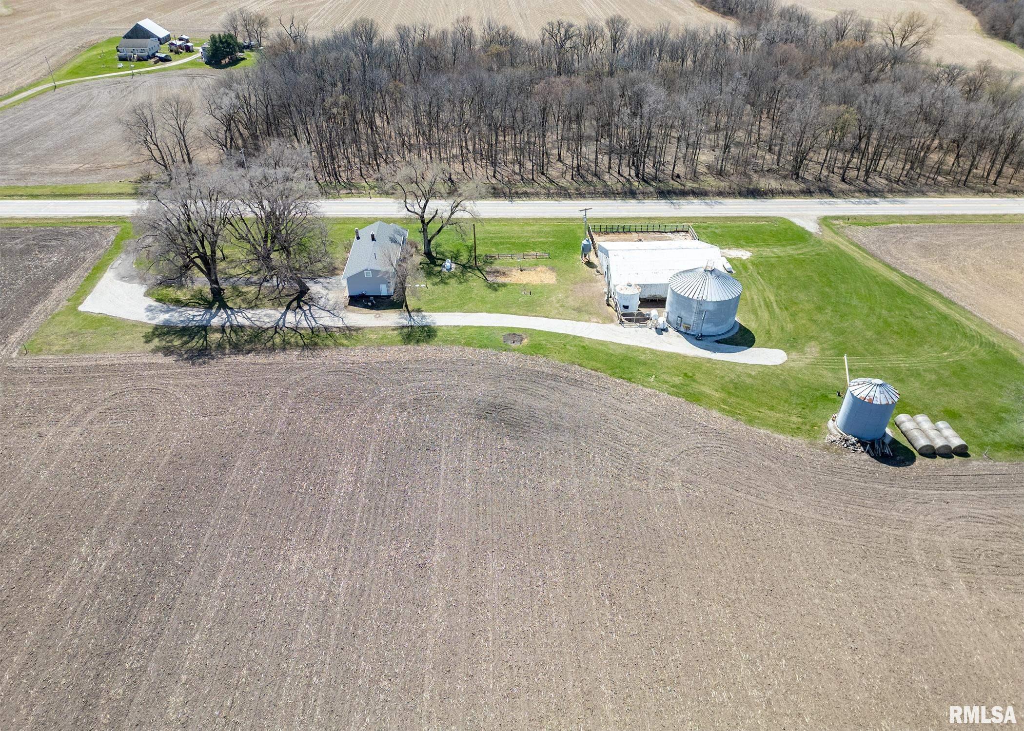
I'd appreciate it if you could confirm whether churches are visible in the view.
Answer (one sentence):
No, this view has no church in it.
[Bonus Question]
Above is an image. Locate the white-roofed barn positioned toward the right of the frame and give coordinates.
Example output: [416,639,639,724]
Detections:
[598,239,732,296]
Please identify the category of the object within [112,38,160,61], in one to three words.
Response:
house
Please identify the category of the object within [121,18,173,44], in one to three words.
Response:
barn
